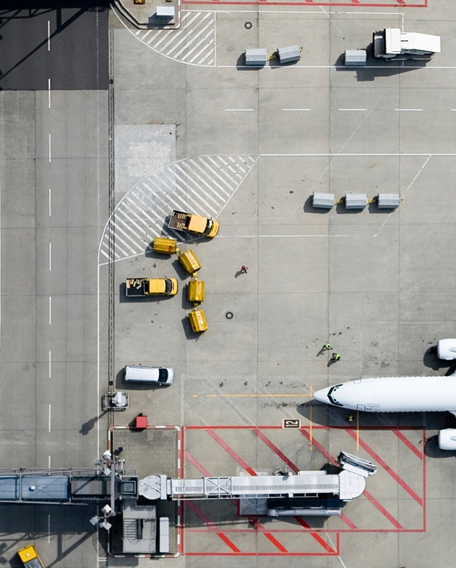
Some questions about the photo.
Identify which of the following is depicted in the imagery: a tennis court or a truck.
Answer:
truck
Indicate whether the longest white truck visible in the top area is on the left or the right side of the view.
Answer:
right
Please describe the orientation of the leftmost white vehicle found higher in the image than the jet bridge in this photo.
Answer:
from left to right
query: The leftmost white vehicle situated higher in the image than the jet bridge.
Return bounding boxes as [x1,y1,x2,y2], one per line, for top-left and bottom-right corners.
[125,366,175,387]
